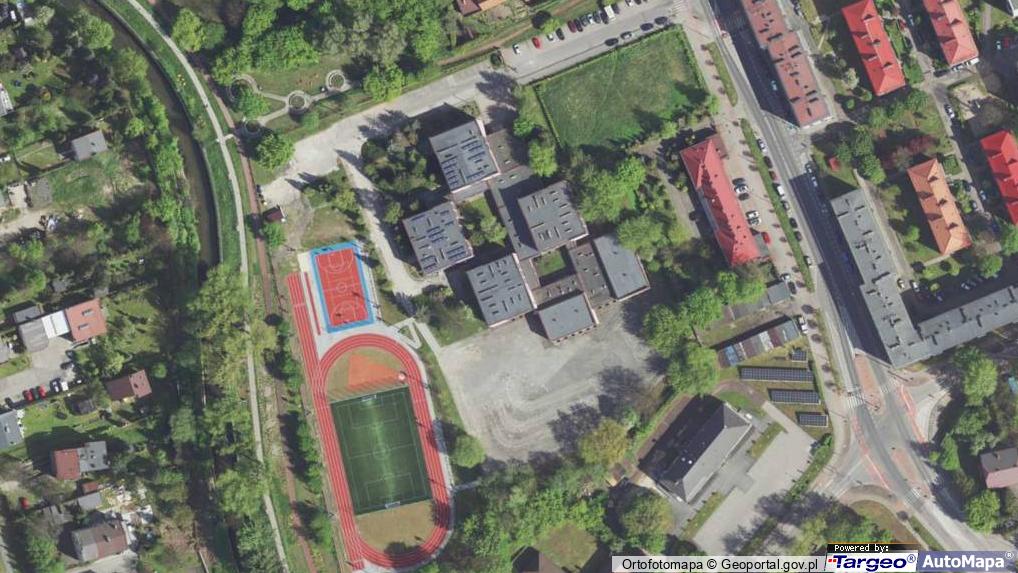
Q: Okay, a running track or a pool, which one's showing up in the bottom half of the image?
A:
running track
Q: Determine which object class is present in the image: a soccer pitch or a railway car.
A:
soccer pitch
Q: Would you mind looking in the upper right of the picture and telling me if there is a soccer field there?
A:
No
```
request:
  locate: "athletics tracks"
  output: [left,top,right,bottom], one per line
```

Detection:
[286,272,450,569]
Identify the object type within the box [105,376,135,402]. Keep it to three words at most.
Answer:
house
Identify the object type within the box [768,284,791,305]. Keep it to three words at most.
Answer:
building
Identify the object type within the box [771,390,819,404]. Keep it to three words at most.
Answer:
solar array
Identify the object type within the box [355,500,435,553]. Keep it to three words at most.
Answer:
sports field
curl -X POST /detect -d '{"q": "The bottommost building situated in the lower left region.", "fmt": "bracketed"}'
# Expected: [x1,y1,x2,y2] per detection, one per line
[72,520,129,561]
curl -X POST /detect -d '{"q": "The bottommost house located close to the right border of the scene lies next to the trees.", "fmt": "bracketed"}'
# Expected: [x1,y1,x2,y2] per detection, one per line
[980,447,1018,488]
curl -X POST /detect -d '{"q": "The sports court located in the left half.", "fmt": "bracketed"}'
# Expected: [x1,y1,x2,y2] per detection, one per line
[311,241,376,332]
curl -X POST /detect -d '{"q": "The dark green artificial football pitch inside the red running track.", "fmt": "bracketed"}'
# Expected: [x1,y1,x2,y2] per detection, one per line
[331,387,431,516]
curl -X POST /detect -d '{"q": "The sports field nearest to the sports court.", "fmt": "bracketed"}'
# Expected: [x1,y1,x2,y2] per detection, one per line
[326,348,409,403]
